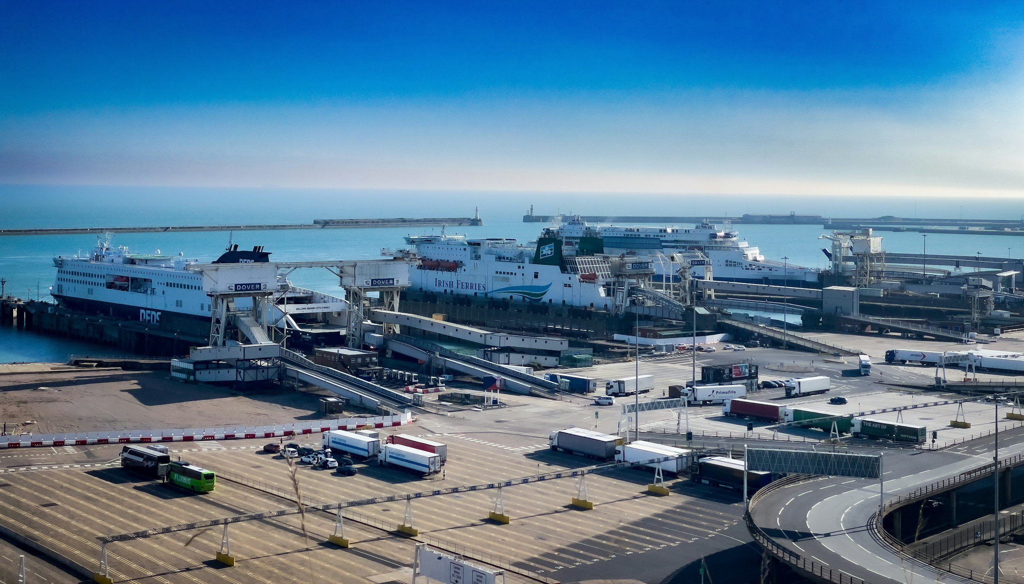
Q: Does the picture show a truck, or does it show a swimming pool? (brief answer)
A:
truck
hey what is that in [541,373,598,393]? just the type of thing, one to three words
vehicle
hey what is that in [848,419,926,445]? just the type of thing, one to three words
truck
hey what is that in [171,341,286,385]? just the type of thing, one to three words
building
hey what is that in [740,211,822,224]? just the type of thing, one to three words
shed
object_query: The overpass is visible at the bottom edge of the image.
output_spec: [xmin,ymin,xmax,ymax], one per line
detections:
[609,422,1024,584]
